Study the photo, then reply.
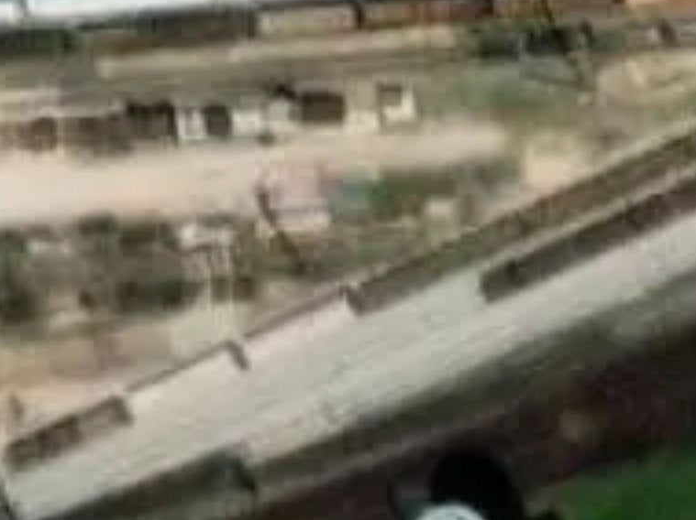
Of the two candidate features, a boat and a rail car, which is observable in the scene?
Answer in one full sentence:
It is a rail car that can be seen here.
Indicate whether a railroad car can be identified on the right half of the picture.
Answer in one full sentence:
Yes, a railroad car is visible on the right half of the picture.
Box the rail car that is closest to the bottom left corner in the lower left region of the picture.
[4,395,138,474]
